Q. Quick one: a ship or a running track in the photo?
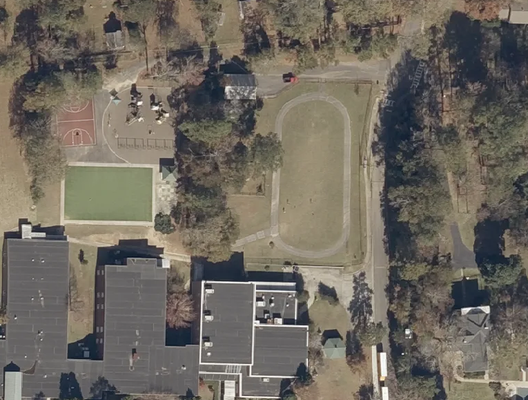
running track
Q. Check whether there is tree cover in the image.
Yes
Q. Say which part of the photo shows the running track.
center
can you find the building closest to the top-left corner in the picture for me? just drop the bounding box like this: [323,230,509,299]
[103,29,123,50]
